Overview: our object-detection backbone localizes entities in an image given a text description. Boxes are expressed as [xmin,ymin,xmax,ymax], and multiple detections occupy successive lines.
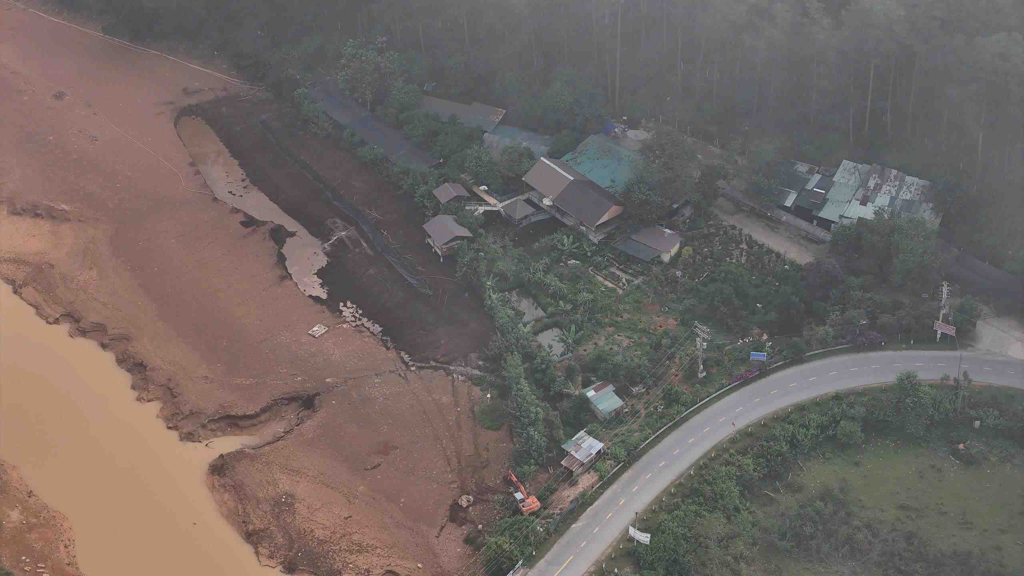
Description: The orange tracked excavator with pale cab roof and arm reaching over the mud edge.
[503,464,544,517]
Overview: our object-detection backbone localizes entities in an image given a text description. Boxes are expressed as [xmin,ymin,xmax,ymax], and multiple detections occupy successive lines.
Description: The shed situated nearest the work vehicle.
[560,427,605,486]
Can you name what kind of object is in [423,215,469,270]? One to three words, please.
building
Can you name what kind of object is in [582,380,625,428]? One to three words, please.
shed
